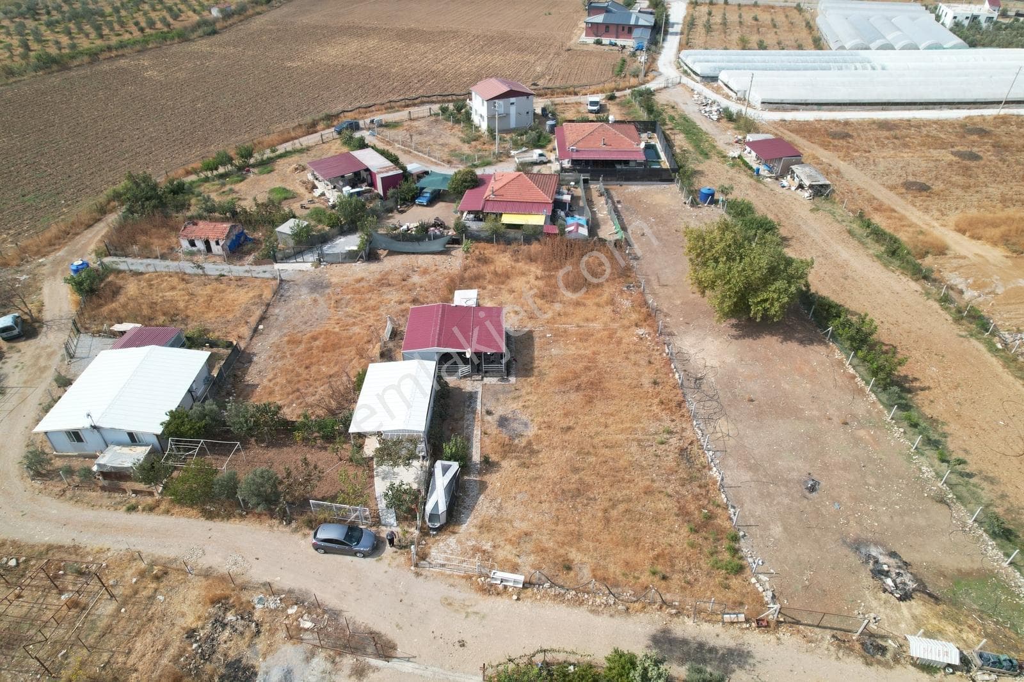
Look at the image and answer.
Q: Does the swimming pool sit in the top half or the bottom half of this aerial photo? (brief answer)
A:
top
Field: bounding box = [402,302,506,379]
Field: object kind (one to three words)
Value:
house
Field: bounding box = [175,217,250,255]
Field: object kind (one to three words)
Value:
shed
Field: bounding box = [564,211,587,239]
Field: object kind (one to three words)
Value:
shed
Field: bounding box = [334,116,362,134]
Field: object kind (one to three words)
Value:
car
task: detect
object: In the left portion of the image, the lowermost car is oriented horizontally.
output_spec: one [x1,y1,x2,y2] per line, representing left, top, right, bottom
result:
[307,525,378,561]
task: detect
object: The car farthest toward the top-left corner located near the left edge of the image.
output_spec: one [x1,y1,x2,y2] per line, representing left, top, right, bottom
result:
[0,316,24,338]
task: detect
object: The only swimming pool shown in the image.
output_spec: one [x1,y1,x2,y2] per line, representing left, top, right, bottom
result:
[641,141,669,169]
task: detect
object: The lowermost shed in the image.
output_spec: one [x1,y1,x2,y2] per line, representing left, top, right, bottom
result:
[903,625,969,672]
